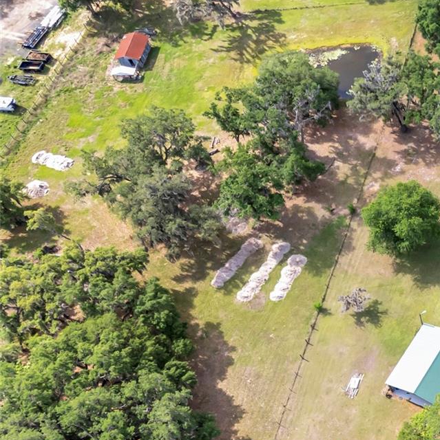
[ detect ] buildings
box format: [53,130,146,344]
[385,325,440,415]
[112,29,154,74]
